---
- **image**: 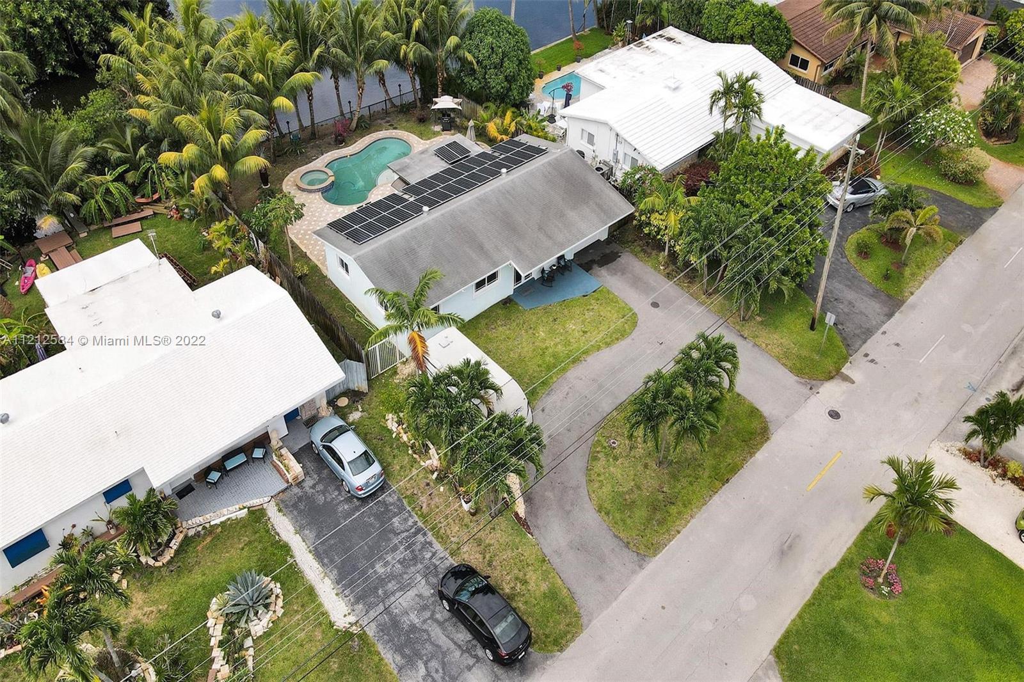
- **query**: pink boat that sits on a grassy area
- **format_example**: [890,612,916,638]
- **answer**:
[18,255,35,291]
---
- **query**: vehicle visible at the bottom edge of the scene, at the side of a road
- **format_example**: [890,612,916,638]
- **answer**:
[440,562,536,671]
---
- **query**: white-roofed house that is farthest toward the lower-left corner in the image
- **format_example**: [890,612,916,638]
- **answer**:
[0,239,346,593]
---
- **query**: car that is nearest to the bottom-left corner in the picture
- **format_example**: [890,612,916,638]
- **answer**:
[309,414,387,500]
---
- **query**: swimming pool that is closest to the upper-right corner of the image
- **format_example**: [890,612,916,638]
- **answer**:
[539,60,598,99]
